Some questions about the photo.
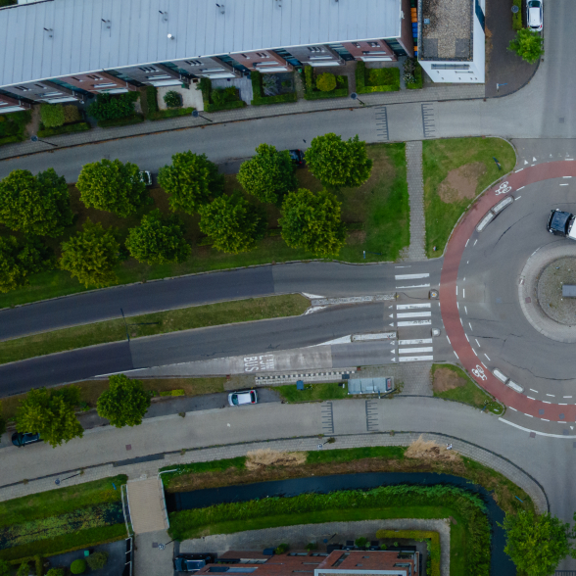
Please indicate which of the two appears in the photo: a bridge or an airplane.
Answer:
bridge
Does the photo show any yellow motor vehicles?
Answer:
No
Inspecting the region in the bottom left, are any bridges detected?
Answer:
Yes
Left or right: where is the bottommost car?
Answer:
left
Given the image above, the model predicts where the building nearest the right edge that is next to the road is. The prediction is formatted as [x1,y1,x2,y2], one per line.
[418,0,484,83]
